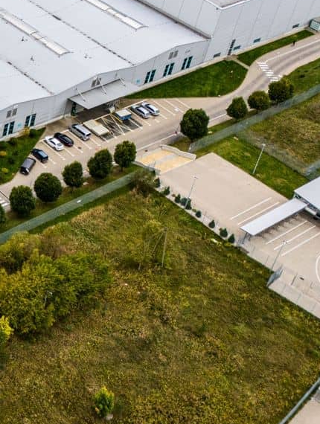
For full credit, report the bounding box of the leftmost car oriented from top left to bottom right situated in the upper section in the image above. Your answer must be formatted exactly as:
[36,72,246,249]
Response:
[29,146,51,164]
